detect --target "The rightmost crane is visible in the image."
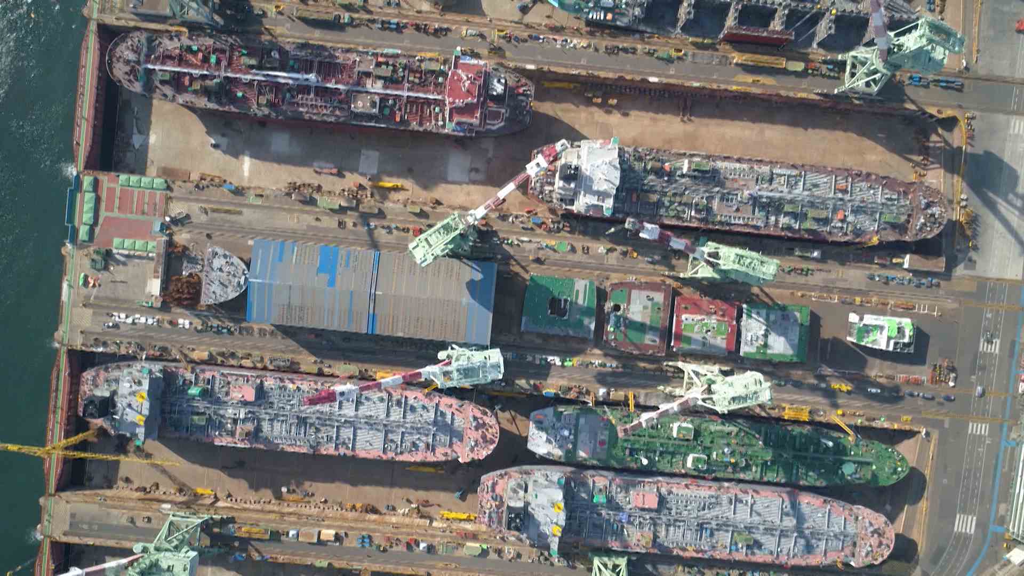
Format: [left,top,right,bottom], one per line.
[833,0,958,96]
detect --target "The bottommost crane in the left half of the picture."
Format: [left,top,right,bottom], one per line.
[1,512,210,576]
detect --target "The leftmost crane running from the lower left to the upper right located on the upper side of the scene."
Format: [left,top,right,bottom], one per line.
[405,143,563,275]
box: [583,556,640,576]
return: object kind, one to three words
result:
crane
